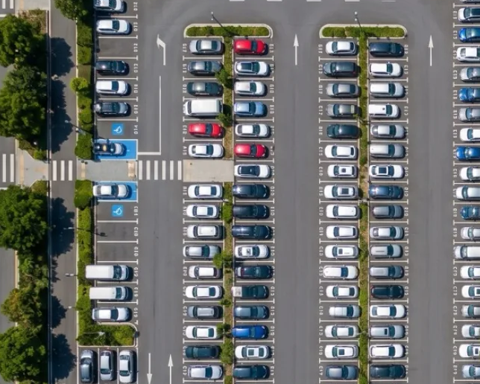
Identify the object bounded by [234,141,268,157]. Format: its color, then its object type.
red car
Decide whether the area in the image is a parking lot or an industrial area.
parking lot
